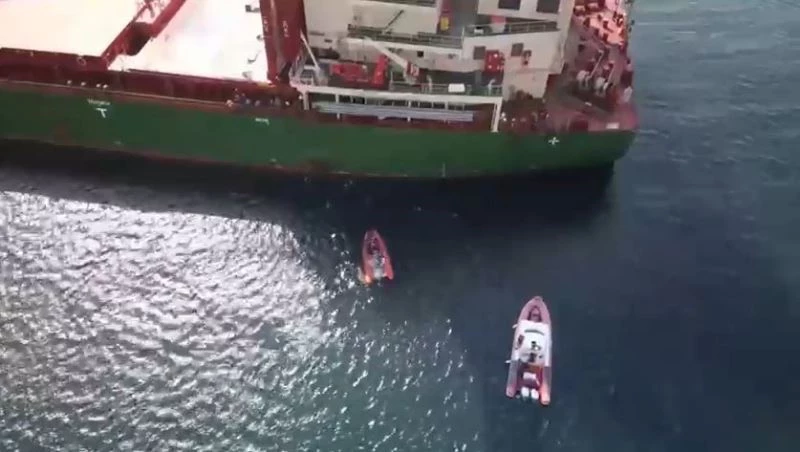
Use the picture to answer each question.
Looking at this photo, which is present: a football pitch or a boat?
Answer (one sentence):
There is a boat in the scene.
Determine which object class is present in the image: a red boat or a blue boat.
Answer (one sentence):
This aerial view contains a red boat.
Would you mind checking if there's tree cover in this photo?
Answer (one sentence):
No, there is no tree cover in the image.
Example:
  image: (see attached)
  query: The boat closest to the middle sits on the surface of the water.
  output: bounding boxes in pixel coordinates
[362,229,393,283]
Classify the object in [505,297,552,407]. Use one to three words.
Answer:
boat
